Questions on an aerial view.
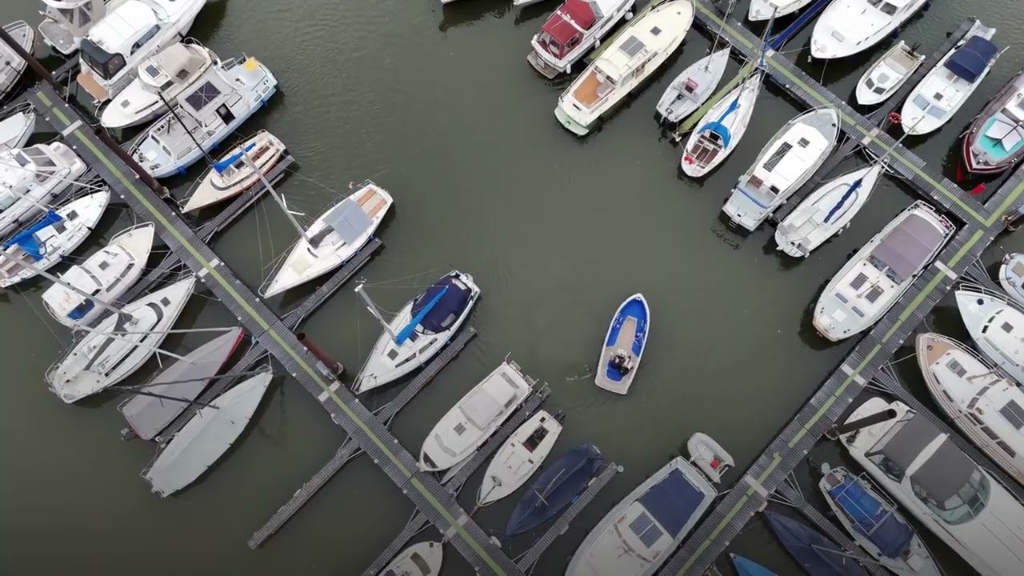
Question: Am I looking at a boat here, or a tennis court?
boat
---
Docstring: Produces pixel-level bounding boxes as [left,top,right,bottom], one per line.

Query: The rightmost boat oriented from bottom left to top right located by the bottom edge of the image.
[564,454,731,576]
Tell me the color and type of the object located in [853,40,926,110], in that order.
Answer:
white boat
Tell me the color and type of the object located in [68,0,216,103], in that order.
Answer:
white boat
